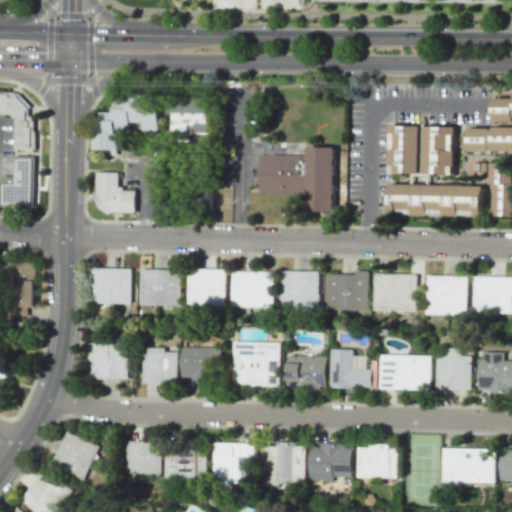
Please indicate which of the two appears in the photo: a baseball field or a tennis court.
tennis court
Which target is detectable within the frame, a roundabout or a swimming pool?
swimming pool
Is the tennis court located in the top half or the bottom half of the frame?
bottom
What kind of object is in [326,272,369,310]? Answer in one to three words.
house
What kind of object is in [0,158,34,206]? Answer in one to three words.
building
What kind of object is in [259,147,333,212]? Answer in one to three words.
building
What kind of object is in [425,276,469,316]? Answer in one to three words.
house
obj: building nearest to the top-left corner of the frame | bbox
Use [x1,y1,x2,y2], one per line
[0,92,34,152]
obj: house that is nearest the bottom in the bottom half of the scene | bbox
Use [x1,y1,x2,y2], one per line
[24,478,68,512]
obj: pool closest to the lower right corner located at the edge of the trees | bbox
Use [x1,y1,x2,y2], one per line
[386,338,410,354]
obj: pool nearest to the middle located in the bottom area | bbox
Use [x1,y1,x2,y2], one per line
[240,328,268,341]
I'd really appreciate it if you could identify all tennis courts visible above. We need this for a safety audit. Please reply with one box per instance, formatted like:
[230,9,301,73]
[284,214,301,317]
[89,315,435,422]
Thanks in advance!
[407,434,442,508]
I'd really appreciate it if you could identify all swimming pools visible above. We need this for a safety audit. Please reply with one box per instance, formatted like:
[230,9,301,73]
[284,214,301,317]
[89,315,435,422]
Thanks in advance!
[184,504,205,512]
[337,330,371,350]
[294,330,326,353]
[386,338,410,354]
[240,328,268,341]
